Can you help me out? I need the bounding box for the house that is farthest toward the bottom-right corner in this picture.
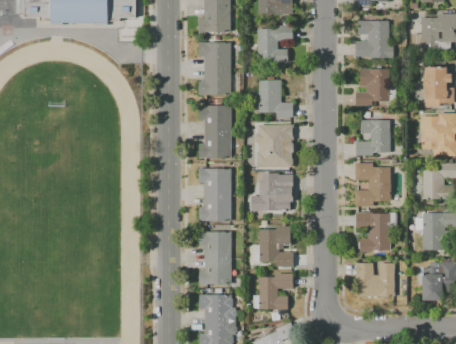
[422,262,456,301]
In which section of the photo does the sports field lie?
left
